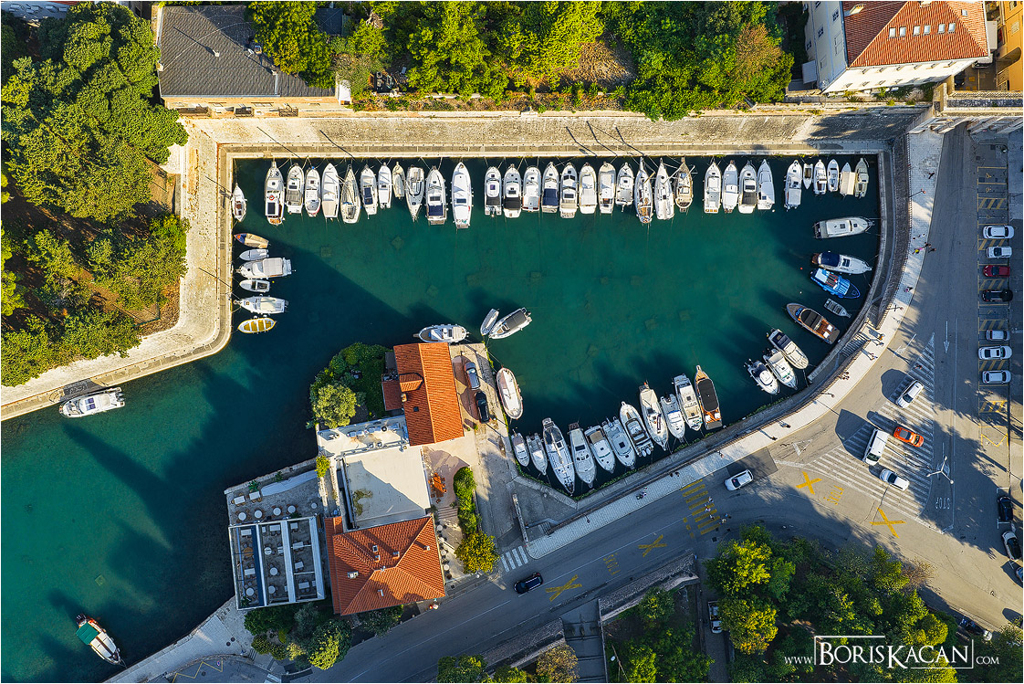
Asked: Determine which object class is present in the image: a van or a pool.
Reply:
van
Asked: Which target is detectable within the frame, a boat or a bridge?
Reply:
boat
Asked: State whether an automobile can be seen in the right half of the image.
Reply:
Yes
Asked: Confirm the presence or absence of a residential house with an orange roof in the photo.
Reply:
Yes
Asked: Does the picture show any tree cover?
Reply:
Yes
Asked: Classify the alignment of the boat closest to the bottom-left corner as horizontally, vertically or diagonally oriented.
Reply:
diagonally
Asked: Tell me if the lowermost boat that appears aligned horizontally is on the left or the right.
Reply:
left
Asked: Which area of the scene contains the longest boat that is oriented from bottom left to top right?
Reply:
center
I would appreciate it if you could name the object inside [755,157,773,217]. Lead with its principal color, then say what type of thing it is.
white boat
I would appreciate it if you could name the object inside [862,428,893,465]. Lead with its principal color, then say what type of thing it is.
white van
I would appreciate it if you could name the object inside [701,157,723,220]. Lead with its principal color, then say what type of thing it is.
white boat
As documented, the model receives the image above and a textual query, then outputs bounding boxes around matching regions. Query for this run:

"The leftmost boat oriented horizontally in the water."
[57,388,127,415]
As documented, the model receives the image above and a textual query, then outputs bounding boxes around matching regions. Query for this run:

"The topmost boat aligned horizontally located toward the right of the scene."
[812,217,880,241]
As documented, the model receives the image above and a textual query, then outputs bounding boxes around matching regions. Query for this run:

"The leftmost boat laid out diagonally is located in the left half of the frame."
[75,616,128,668]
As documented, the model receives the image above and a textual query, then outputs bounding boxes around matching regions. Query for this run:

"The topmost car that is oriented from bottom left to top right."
[892,378,928,410]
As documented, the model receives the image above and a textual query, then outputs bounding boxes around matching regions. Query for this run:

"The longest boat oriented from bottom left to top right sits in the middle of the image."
[490,306,531,338]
